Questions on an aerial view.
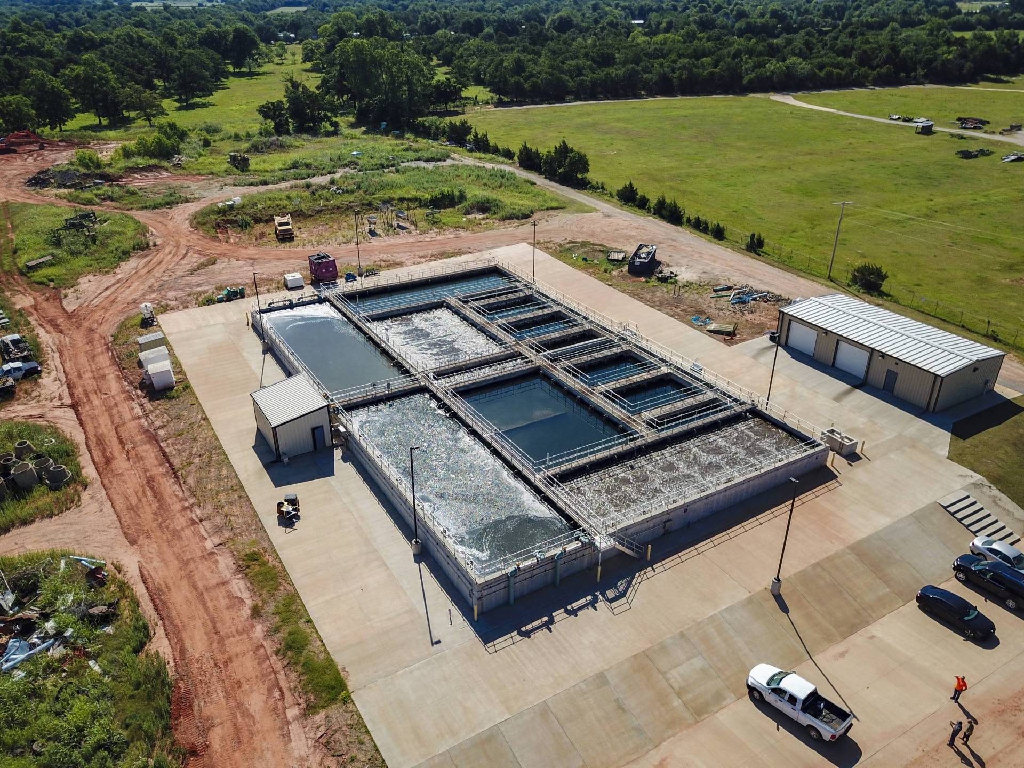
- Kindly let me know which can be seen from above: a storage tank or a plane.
storage tank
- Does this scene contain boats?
No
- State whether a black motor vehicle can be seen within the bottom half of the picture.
Yes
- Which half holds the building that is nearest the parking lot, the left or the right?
right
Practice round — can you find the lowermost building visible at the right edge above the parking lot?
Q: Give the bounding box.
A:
[772,290,1005,415]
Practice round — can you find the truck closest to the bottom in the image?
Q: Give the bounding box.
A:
[741,661,856,750]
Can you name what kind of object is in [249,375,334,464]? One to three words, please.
shed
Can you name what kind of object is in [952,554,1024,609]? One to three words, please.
car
